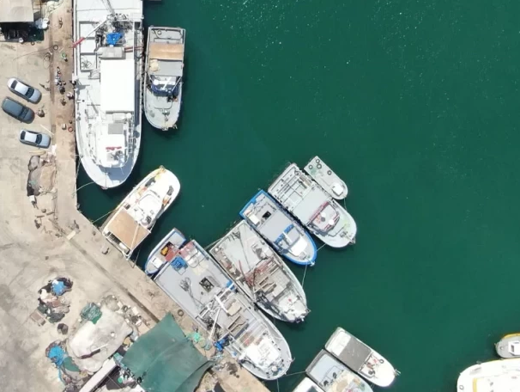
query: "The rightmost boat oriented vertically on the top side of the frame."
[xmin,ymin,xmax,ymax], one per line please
[144,28,186,131]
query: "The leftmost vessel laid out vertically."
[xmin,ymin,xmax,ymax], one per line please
[71,0,145,190]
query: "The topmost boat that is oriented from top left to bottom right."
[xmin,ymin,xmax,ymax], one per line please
[302,157,348,203]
